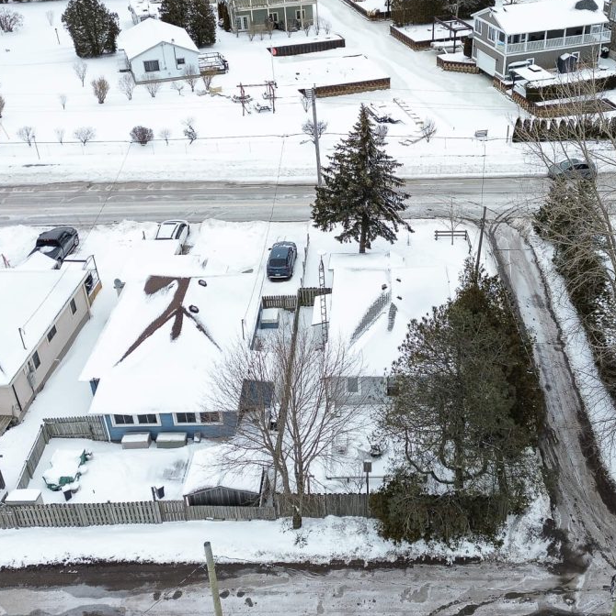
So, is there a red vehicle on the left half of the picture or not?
No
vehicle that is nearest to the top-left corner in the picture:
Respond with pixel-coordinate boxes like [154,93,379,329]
[129,0,148,19]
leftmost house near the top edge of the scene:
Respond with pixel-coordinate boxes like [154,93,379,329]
[123,18,200,82]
